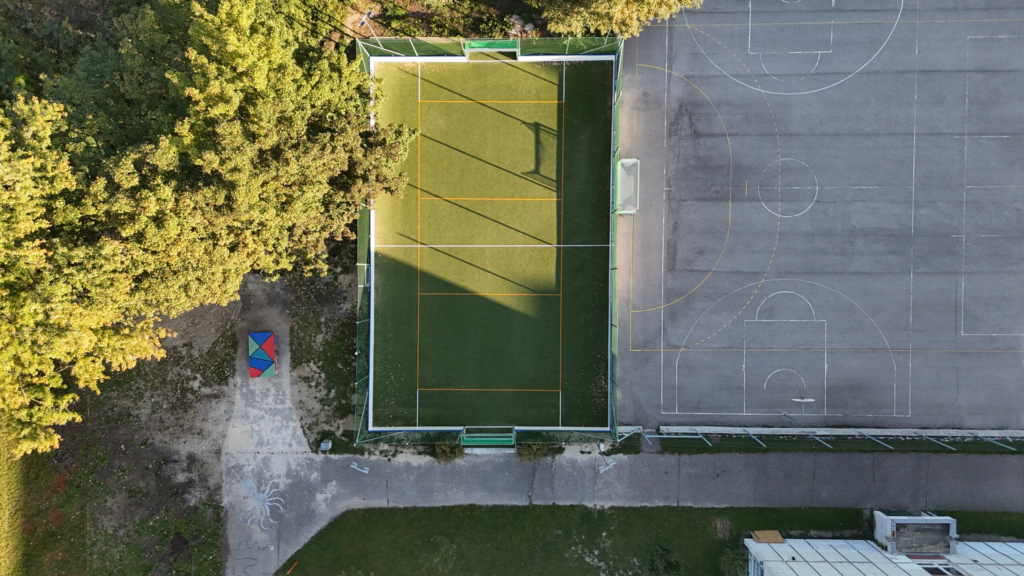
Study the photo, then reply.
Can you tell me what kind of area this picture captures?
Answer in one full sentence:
This image shows a sports ground.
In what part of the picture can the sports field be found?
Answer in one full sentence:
The sports field sits in the center section of the image.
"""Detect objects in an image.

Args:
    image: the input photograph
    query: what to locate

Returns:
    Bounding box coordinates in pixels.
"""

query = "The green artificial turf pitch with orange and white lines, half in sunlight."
[373,48,613,447]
